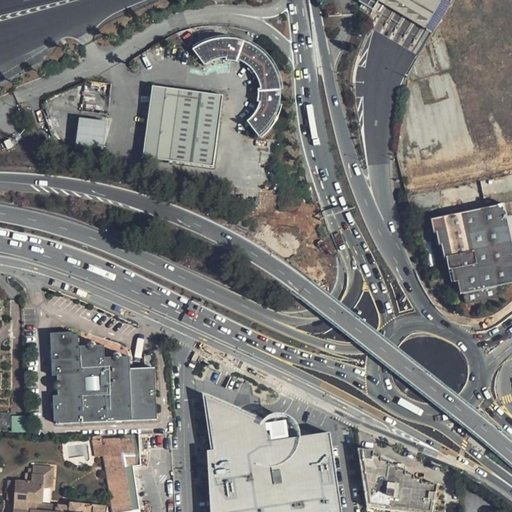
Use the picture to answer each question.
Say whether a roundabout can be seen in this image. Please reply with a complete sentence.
Yes, this view includes a roundabout.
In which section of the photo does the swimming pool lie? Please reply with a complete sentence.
Look in the bottom left portion of the view to spot the swimming pool.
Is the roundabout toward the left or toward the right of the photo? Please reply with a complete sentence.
The roundabout appears in the right half of the scene.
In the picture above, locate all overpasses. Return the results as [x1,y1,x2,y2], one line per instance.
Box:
[0,172,512,467]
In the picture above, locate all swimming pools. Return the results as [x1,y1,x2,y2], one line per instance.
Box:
[62,440,94,466]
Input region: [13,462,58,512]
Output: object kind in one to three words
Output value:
house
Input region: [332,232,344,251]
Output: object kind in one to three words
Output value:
vehicle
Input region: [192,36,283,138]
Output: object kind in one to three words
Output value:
building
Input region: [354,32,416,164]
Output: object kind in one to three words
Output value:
toll station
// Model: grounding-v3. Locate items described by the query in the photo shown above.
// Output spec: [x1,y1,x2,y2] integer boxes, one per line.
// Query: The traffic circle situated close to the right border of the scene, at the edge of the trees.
[368,311,490,425]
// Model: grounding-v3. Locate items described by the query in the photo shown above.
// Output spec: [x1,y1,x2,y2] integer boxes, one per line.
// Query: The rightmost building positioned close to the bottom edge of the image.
[356,447,436,512]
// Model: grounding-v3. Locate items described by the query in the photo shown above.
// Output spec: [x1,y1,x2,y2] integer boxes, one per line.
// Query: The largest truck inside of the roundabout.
[396,396,426,417]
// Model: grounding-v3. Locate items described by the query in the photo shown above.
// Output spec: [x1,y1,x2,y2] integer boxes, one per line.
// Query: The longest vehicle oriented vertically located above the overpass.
[306,104,320,146]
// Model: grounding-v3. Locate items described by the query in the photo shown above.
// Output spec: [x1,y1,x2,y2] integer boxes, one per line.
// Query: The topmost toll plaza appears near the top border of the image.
[363,0,452,76]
